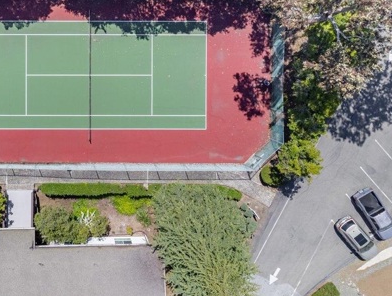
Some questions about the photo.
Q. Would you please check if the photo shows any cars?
Yes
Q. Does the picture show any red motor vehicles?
No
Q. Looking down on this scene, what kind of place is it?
sports ground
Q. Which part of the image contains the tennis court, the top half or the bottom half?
top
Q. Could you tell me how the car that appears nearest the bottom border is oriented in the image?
at an angle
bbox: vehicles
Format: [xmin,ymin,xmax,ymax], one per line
[350,183,392,240]
[336,213,376,259]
